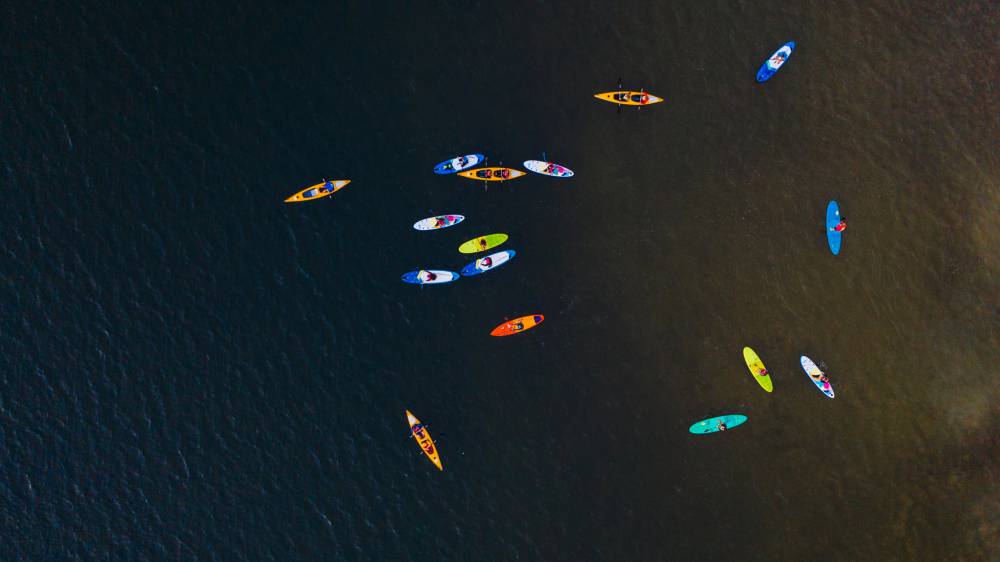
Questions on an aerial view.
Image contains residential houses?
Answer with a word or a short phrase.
No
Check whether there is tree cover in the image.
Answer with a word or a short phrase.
No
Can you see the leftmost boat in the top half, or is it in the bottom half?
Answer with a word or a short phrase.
top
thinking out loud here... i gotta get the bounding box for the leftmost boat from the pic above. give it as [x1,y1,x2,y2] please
[283,180,350,201]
